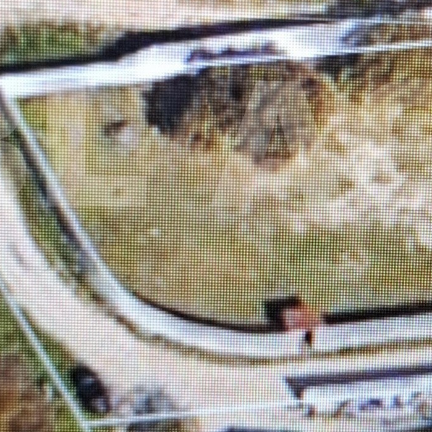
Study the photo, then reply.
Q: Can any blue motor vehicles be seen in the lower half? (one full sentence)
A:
No, I can find no blue motor vehicle in the lower half.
